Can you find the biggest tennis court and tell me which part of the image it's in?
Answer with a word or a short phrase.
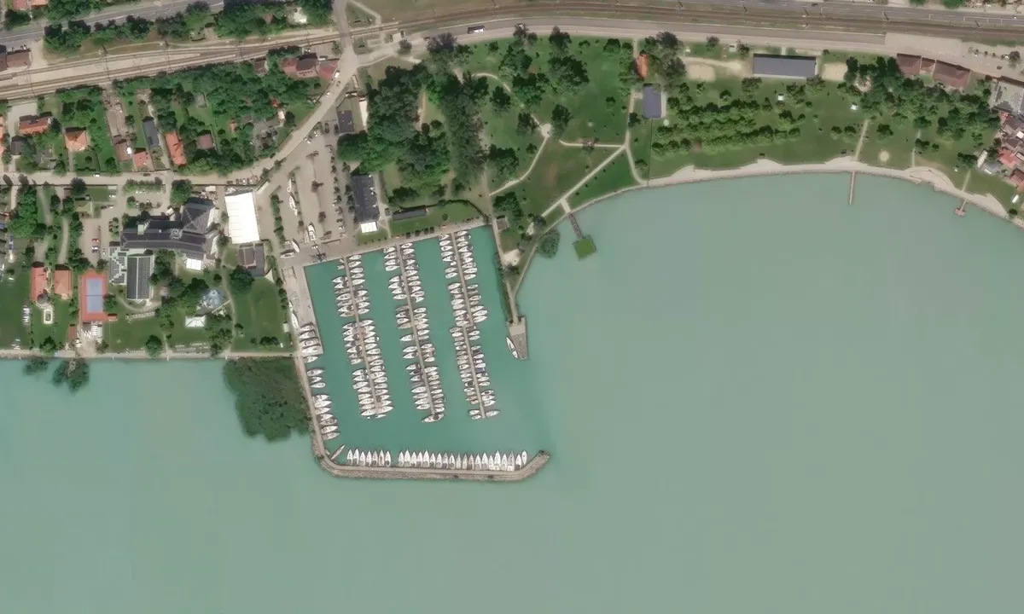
left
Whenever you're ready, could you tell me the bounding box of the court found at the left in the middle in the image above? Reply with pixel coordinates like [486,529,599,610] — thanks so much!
[80,271,107,322]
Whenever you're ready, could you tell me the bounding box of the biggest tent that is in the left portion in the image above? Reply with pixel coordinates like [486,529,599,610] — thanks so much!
[225,192,262,244]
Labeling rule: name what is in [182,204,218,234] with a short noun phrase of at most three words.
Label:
building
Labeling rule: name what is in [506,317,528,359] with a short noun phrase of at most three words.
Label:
pier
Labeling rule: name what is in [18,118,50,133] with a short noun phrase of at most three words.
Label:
house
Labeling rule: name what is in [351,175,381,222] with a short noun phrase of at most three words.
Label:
building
